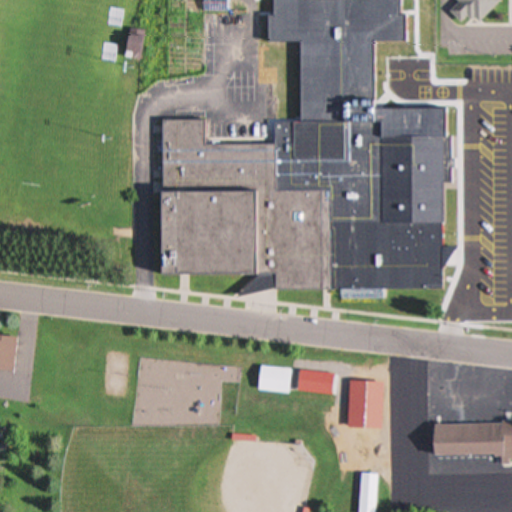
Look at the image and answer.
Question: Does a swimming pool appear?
No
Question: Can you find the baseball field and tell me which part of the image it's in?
bottom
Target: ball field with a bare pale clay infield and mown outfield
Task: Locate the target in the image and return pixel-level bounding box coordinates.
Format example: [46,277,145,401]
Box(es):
[222,440,316,512]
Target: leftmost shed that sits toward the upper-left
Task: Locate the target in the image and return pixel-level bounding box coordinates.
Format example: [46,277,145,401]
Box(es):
[125,29,146,60]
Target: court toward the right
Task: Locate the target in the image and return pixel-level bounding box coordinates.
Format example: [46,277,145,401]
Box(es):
[390,59,464,99]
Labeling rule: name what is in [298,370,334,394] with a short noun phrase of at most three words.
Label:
shed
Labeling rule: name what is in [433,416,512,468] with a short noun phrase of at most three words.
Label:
building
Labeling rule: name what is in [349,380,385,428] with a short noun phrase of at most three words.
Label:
barn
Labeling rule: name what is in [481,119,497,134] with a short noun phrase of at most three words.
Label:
vehicle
